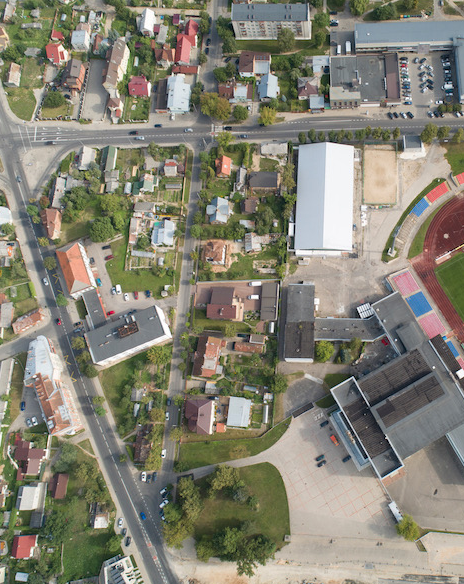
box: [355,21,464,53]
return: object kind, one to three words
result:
building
